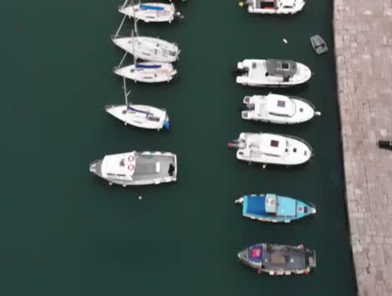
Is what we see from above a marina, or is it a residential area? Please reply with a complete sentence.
What you see here is a marina.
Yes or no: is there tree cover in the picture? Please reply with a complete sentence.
No, there's no tree cover in this view.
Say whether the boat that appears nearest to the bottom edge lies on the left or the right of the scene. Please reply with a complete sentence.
It is on the right.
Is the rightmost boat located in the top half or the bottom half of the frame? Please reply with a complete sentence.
It is in the top half that the rightmost boat appears.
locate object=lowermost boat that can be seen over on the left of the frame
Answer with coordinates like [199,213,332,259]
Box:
[88,141,177,191]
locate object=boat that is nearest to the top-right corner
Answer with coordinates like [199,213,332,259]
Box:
[309,35,329,57]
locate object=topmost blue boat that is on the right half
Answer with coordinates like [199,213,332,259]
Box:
[230,191,317,227]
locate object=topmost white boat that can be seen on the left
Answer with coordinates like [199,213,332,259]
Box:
[118,0,183,27]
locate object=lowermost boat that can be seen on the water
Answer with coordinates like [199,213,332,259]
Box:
[238,240,314,280]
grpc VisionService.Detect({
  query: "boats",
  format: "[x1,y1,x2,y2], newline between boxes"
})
[114,0,181,64]
[114,28,185,88]
[228,132,313,169]
[242,0,307,18]
[309,35,329,57]
[242,93,324,126]
[105,60,174,133]
[230,191,317,227]
[118,0,183,27]
[88,141,177,191]
[238,240,314,280]
[235,59,313,88]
